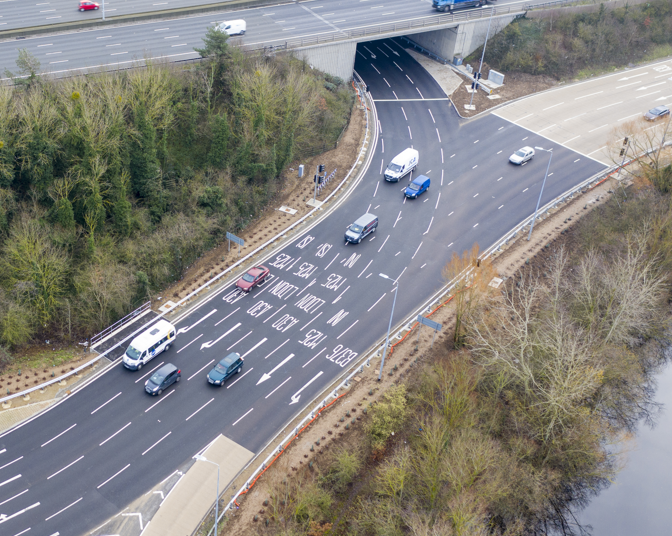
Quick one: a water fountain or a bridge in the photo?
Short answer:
bridge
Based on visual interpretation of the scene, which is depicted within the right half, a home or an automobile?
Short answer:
automobile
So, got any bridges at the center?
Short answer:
No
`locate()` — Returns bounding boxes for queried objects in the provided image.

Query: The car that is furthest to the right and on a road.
[645,104,672,120]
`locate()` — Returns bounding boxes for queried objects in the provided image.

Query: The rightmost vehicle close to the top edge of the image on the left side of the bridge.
[214,18,247,37]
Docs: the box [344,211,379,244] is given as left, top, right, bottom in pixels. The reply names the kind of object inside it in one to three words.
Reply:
van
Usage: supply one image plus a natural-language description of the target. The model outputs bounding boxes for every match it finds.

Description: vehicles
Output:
[118,319,175,373]
[432,0,487,12]
[234,264,270,293]
[509,146,537,165]
[214,18,247,37]
[344,211,379,244]
[645,104,672,120]
[145,364,182,396]
[204,351,246,388]
[77,0,99,11]
[403,174,431,200]
[383,148,420,182]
